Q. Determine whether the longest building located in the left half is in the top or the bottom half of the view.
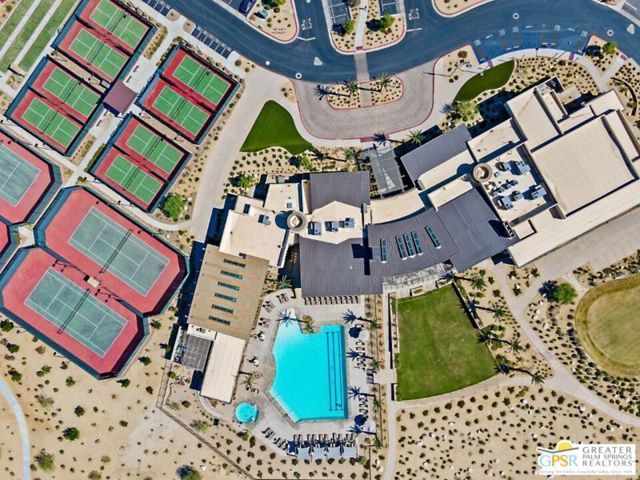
bottom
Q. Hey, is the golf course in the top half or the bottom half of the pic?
bottom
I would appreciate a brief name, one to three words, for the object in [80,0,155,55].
sports court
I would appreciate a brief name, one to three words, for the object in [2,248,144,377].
tennis court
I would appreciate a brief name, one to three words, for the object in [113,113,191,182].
sports court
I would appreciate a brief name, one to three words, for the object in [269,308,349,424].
swimming pool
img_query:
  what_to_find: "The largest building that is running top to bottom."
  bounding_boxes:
[180,245,269,402]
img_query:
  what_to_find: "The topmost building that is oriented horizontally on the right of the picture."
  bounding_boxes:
[220,76,640,296]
